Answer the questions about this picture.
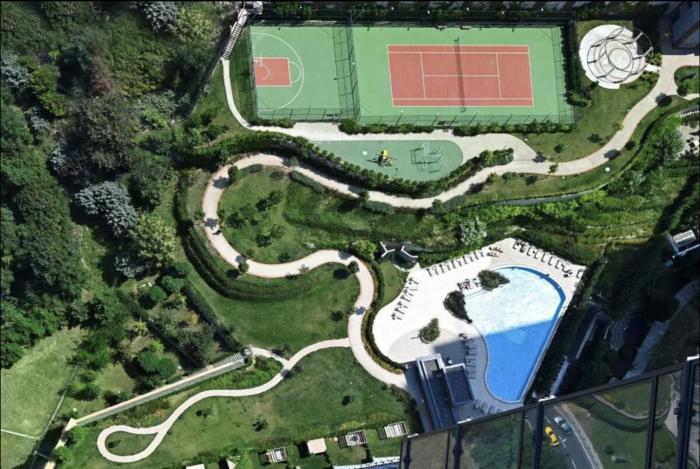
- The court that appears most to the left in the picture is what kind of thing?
basketball court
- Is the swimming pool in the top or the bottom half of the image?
bottom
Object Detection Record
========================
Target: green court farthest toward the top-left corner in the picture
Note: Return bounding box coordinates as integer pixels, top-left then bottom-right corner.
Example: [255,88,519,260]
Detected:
[252,25,355,120]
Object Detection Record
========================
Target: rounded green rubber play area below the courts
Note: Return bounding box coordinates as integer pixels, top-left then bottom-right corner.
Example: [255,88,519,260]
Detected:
[308,139,463,186]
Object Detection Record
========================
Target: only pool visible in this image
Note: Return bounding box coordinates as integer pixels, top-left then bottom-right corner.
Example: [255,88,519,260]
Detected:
[462,263,567,406]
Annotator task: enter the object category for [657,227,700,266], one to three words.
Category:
building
